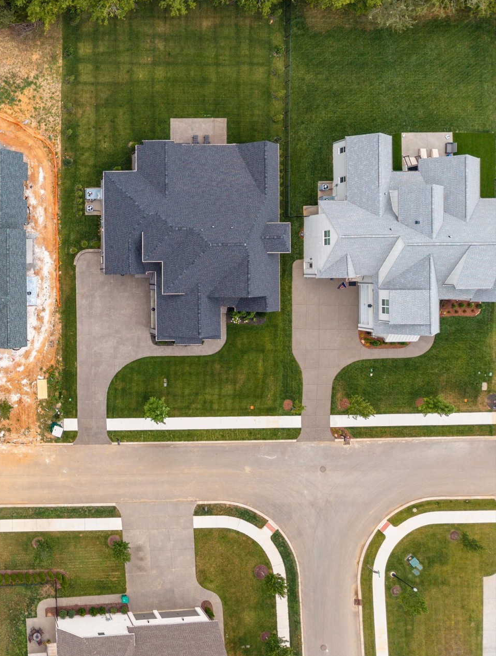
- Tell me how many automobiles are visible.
0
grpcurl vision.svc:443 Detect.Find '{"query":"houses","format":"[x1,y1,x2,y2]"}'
[101,139,291,346]
[0,149,27,349]
[304,133,496,341]
[56,608,229,656]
